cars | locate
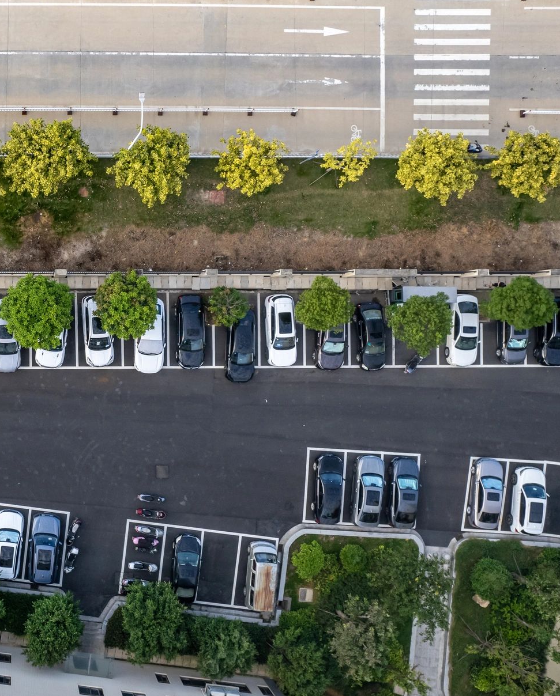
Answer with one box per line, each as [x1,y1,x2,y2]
[351,454,390,528]
[507,466,553,535]
[314,319,351,370]
[263,294,302,368]
[224,309,260,383]
[352,302,392,371]
[533,296,560,367]
[176,294,210,370]
[134,298,167,374]
[387,456,426,529]
[0,324,24,374]
[444,295,484,368]
[310,452,349,525]
[81,295,118,368]
[170,532,205,603]
[494,302,535,365]
[33,316,67,369]
[29,511,64,585]
[0,509,26,581]
[466,456,509,530]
